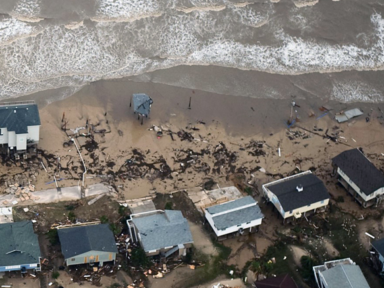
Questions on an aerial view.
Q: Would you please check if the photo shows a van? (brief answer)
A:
No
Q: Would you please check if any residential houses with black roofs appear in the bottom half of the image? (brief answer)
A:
Yes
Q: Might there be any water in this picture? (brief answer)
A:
Yes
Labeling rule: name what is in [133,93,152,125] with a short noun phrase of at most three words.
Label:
shed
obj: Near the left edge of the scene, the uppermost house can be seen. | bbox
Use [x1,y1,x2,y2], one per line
[0,101,40,159]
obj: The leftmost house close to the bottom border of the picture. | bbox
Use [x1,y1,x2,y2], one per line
[0,221,41,279]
